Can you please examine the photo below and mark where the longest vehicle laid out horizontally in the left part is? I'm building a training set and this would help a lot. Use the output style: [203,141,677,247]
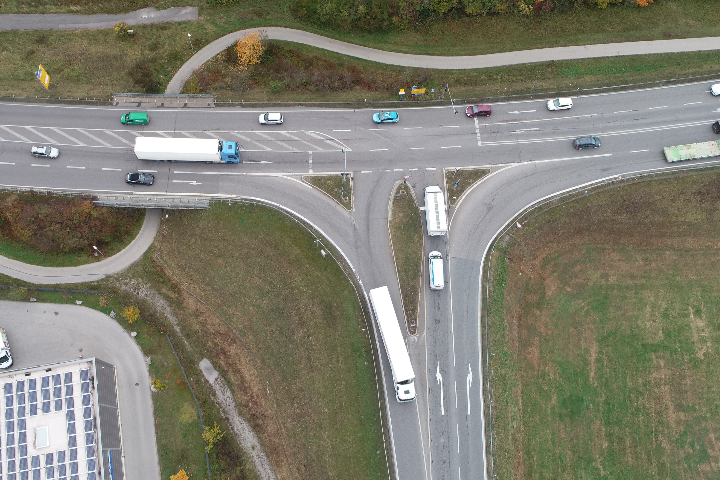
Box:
[135,138,240,162]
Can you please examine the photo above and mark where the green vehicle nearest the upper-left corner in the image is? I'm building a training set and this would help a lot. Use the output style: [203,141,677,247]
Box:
[120,111,151,125]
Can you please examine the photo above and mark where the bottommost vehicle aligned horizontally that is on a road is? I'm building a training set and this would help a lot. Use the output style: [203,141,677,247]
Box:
[125,172,155,185]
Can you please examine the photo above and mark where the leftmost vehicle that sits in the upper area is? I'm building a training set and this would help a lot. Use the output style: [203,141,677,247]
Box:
[29,145,61,159]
